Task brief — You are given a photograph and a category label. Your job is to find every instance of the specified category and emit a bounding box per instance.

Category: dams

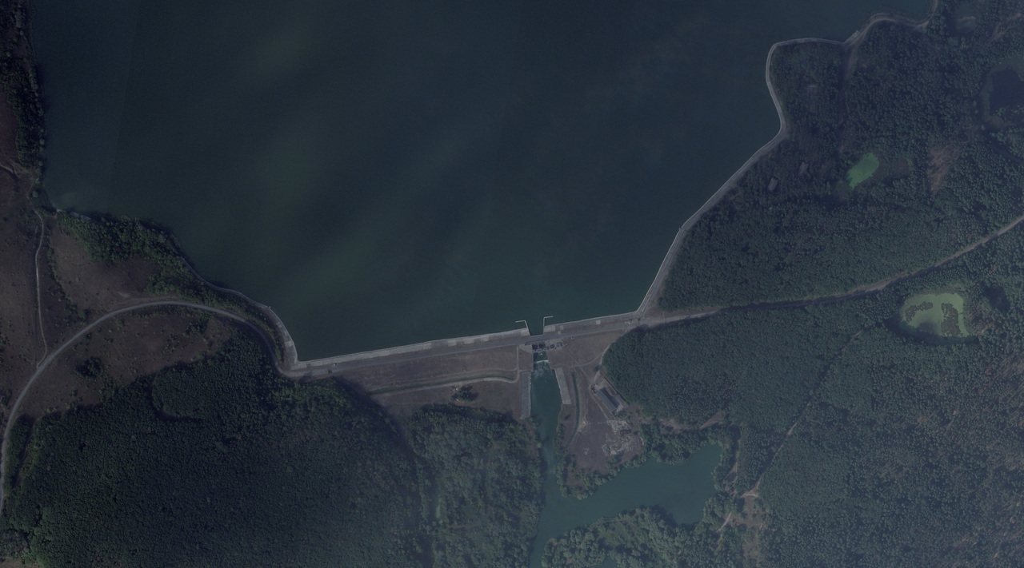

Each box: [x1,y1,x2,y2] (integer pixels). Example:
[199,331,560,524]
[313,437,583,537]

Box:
[291,311,638,371]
